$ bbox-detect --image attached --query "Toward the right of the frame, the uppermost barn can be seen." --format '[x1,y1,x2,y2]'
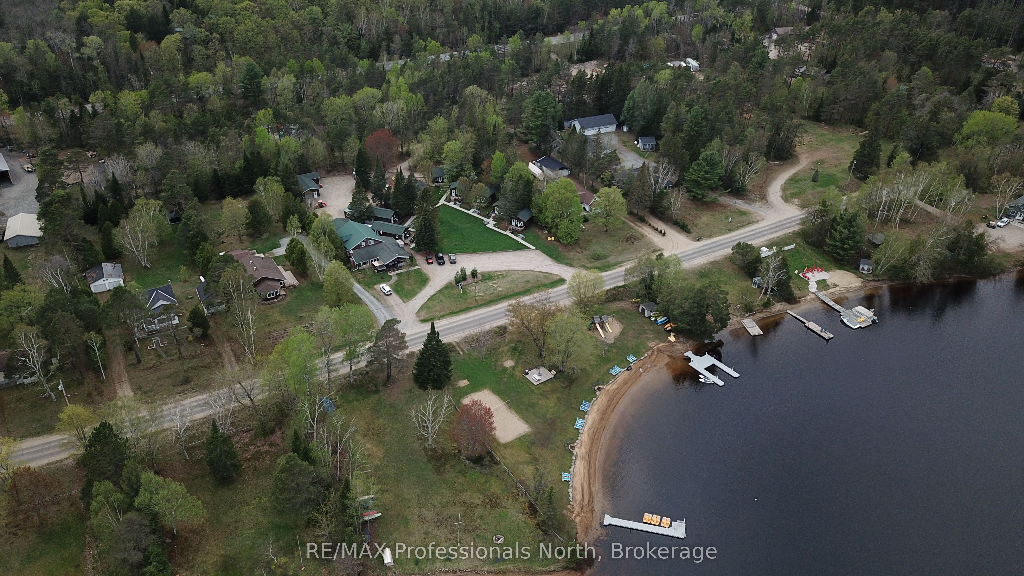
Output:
[770,26,814,42]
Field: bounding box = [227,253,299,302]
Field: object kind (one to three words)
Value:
house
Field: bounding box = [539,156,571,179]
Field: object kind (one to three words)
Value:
building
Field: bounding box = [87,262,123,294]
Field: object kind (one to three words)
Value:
building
